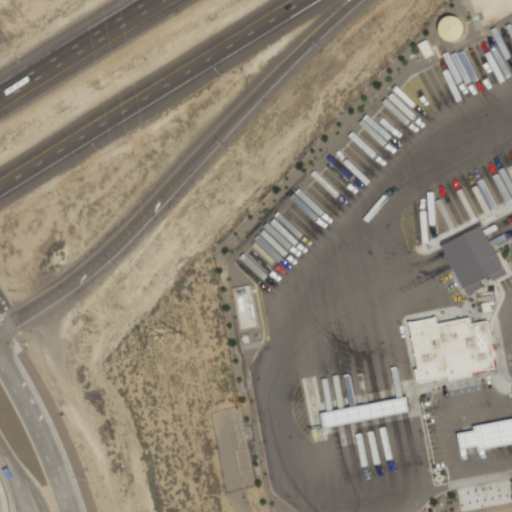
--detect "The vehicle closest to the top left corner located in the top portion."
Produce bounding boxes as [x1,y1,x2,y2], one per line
[4,77,31,95]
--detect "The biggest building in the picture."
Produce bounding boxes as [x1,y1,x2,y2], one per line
[408,316,496,384]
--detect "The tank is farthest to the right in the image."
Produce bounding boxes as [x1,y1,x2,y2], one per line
[436,14,466,44]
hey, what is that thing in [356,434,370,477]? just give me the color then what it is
white vehicle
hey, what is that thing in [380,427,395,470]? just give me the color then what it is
white vehicle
